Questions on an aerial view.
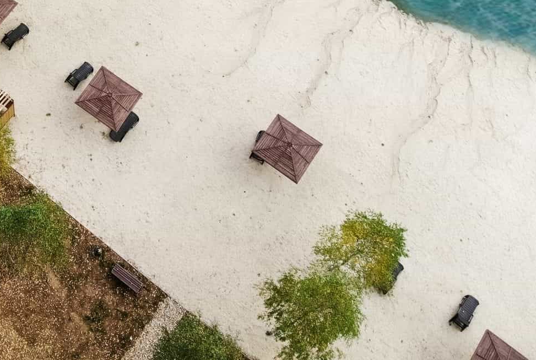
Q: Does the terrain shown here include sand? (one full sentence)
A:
Yes, there is sand in the image.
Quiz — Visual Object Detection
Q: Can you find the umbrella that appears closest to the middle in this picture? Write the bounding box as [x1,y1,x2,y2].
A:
[252,113,323,183]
